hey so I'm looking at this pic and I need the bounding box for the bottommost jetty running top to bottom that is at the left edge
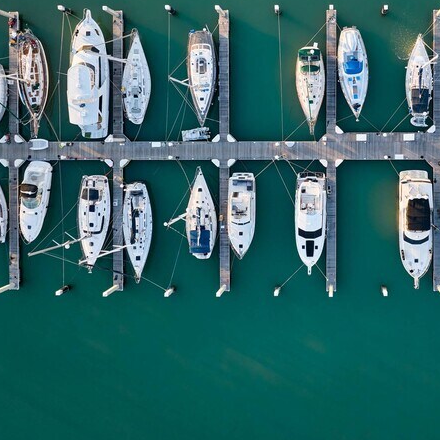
[8,160,21,291]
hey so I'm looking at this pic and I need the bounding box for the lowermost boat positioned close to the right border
[398,169,434,291]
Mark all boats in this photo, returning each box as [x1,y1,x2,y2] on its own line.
[19,161,56,243]
[0,65,8,125]
[172,25,218,127]
[410,115,429,126]
[293,170,328,277]
[84,182,153,282]
[59,8,116,138]
[166,166,219,258]
[226,172,257,260]
[28,138,50,149]
[86,29,153,123]
[405,34,440,115]
[31,174,114,270]
[0,181,10,244]
[398,169,434,291]
[336,25,371,121]
[296,42,326,134]
[0,28,53,137]
[182,126,210,140]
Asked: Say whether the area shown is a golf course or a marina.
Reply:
marina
